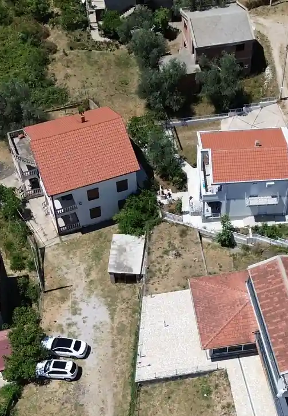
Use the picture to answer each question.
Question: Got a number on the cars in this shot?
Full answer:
The picture shows 2 cars.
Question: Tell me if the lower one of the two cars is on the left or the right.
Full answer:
The lower one of the two cars is on the left side of the image.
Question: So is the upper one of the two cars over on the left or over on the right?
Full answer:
The upper one of the two cars appears in the left half of the scene.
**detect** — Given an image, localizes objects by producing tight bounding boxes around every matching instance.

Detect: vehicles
[34,355,79,381]
[36,330,87,356]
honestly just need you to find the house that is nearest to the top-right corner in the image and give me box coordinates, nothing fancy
[165,6,257,88]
